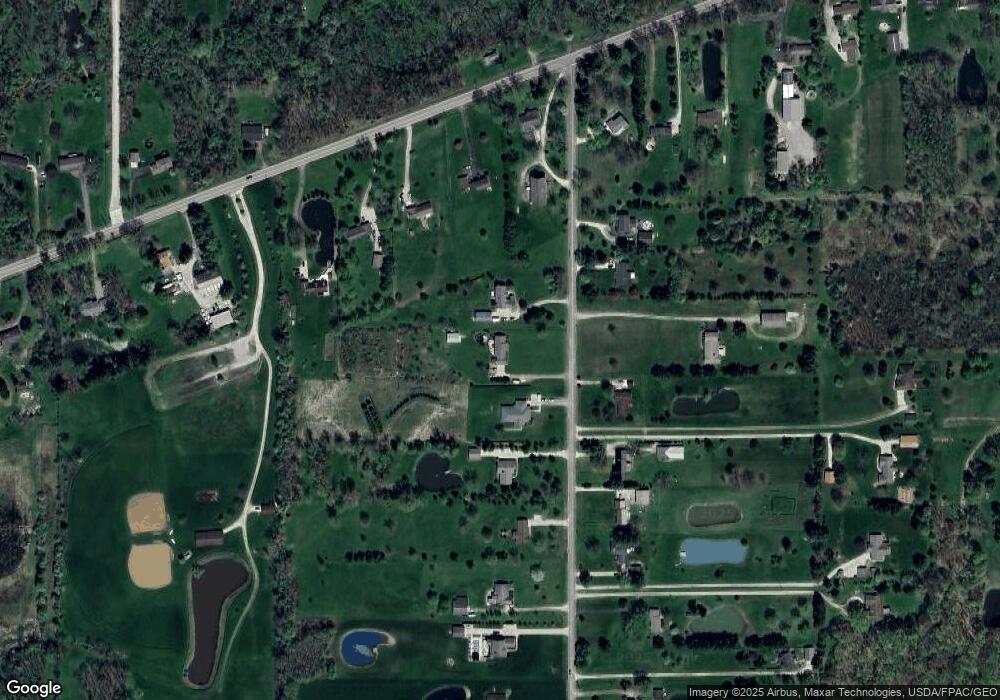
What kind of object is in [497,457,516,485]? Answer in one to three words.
house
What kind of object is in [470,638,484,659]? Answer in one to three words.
swimming pool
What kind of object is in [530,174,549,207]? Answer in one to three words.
barn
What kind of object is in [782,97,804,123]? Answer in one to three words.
building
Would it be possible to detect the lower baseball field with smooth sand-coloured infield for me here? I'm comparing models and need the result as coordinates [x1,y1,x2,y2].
[70,540,178,639]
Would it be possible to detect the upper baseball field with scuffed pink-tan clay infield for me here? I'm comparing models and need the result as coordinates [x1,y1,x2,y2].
[68,427,172,540]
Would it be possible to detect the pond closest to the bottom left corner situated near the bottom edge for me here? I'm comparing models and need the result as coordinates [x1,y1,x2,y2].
[187,558,249,686]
